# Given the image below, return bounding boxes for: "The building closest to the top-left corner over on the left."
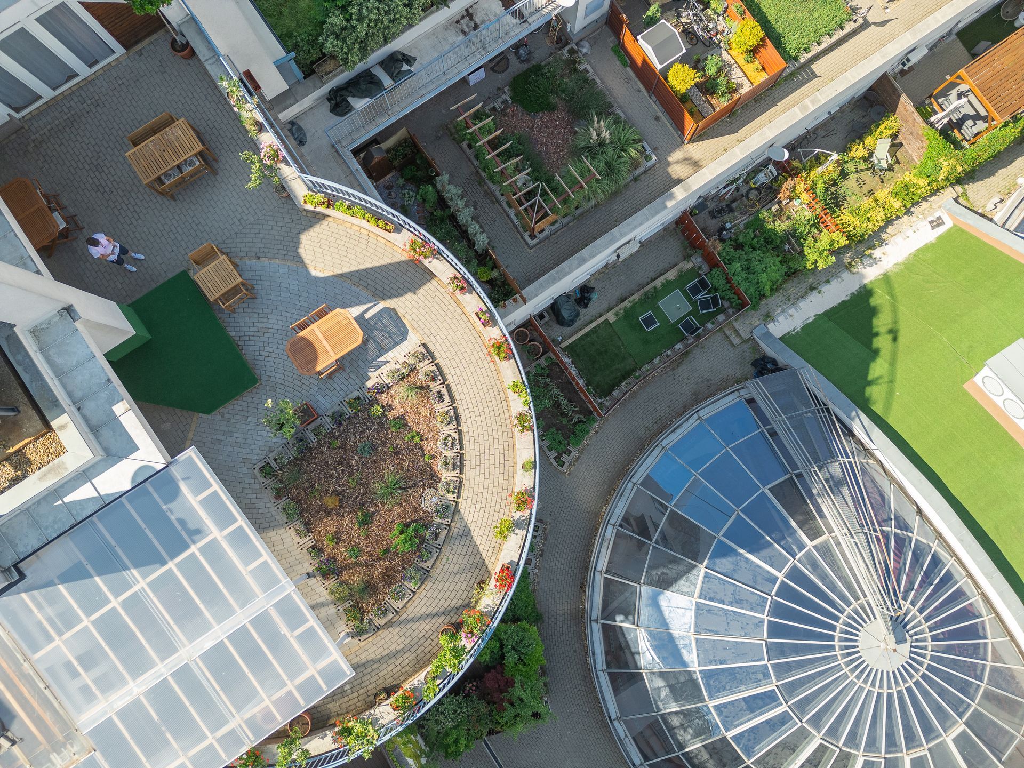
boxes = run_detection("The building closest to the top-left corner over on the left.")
[0,0,206,120]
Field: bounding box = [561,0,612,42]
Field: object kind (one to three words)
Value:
house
